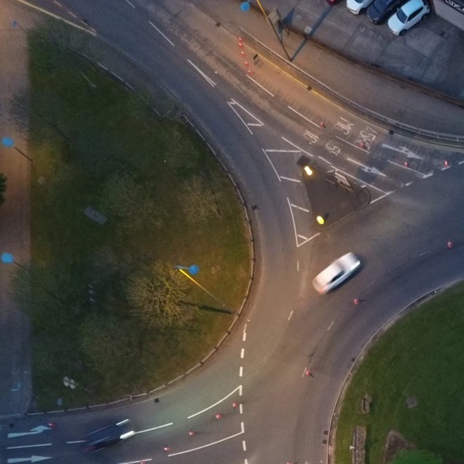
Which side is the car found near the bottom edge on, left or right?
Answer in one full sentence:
The car found near the bottom edge sits on the left side.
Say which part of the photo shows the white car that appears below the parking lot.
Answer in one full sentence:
The white car that appears below the parking lot is in the right part of the image.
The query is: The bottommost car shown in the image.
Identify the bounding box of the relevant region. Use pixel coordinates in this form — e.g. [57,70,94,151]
[84,421,133,451]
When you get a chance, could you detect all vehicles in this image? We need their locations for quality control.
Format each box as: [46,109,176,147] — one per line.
[348,0,376,13]
[368,0,409,23]
[84,421,133,451]
[388,0,432,34]
[314,254,362,294]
